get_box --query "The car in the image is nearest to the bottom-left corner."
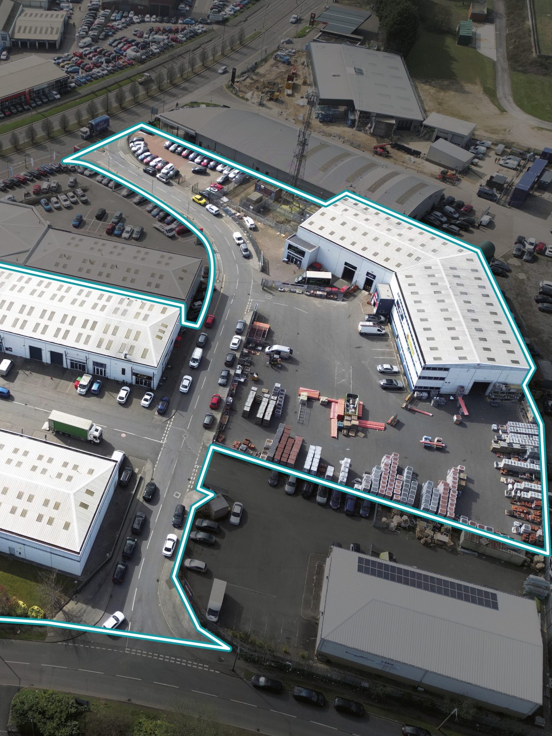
[101,609,126,635]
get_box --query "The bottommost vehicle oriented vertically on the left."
[205,578,228,624]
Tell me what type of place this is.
industrial area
